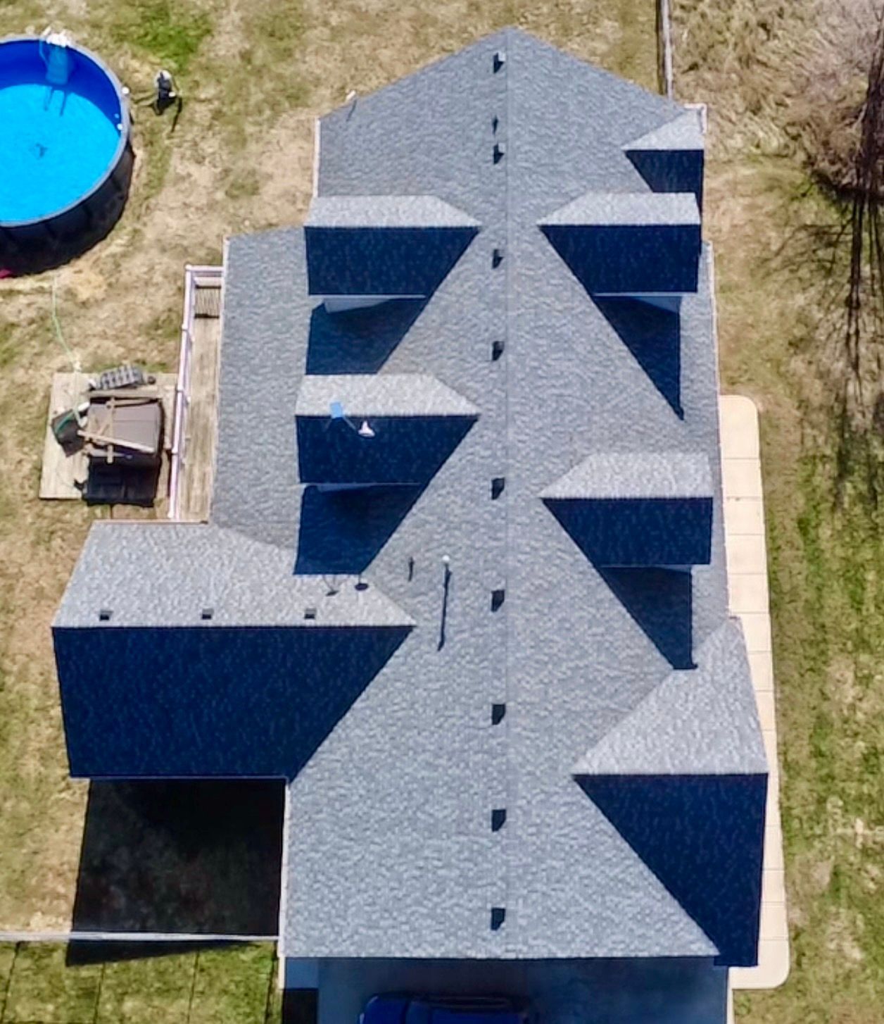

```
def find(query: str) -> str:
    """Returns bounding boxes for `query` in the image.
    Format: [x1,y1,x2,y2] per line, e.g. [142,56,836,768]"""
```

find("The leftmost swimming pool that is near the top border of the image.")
[0,38,134,236]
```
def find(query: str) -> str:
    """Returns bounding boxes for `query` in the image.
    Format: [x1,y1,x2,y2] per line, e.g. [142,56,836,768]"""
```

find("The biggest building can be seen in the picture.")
[54,26,768,968]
